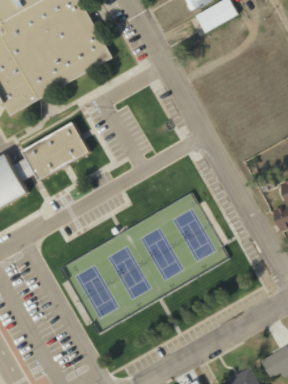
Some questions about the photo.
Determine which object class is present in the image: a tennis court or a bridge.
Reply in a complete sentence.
The one in the frame is a tennis court.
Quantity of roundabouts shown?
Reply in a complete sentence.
Not a single roundabout can be seen.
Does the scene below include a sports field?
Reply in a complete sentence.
Yes, there's a sports field down there.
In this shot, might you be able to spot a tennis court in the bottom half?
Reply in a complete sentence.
Yes, you'll find a tennis court in the bottom half.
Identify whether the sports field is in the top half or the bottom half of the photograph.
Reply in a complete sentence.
It is in the bottom half that the sports field appears.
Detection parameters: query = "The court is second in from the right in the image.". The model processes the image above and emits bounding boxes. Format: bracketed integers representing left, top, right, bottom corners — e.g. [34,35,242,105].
[141,228,182,280]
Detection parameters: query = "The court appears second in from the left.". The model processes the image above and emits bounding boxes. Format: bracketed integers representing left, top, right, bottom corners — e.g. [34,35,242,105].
[109,246,151,300]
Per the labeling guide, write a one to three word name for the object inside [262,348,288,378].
house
